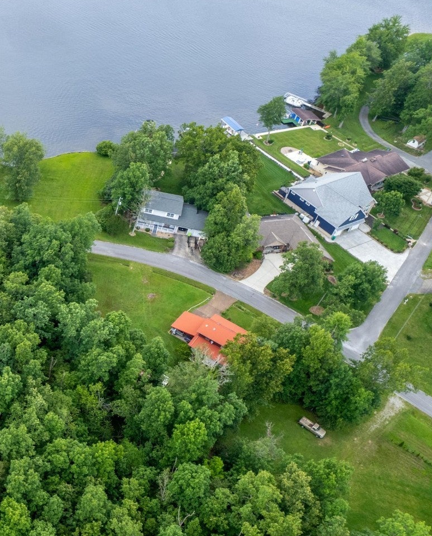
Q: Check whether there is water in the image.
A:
Yes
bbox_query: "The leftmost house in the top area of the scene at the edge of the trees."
[137,190,209,239]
